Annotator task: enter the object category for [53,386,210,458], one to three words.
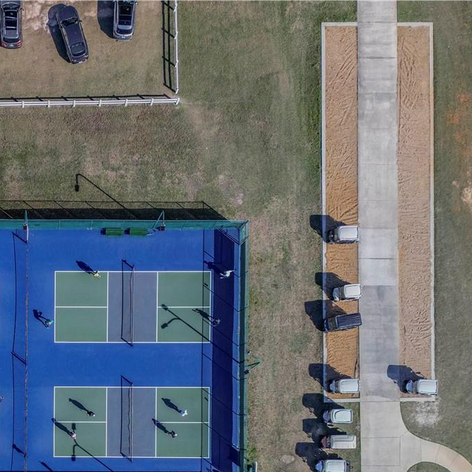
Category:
sports court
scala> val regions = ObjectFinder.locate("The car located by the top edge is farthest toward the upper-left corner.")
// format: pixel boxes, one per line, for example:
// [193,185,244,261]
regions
[1,0,25,50]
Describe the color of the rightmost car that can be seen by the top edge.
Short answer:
black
